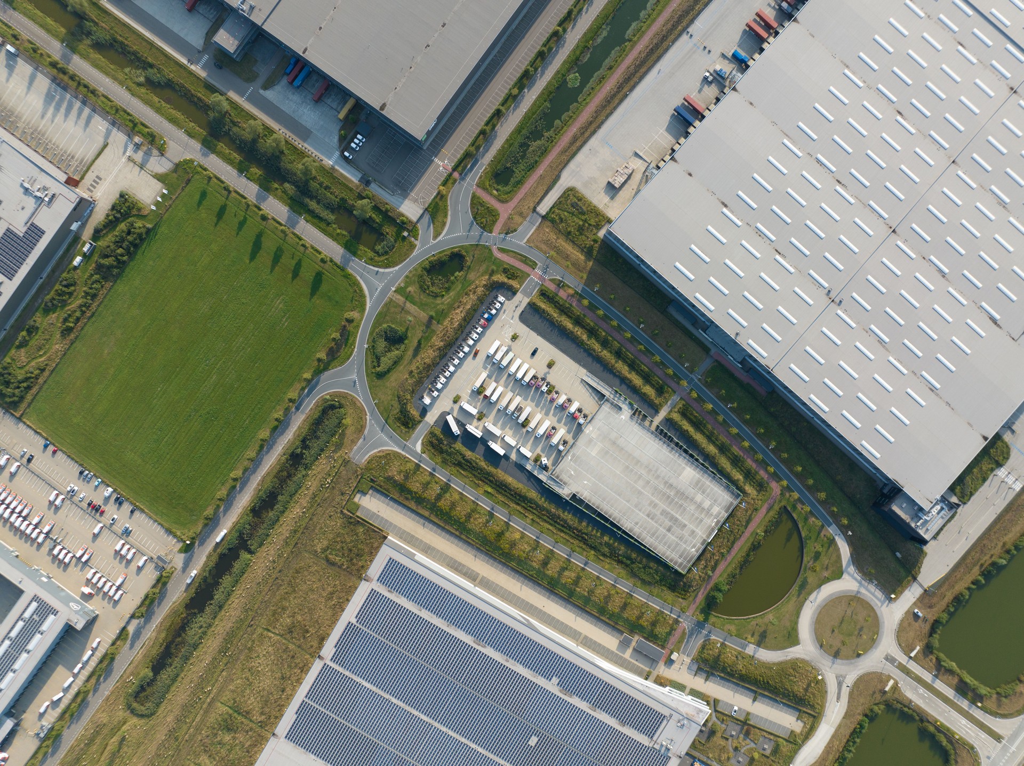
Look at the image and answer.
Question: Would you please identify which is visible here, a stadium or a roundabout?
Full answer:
Of the two, only a roundabout appears.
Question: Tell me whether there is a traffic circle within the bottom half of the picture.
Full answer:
Yes, a traffic circle is visible within the bottom half of the picture.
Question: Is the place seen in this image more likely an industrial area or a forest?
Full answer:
This looks like an industrial area.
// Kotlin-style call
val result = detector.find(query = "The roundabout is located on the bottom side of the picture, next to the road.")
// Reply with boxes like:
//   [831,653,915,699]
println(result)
[799,580,895,673]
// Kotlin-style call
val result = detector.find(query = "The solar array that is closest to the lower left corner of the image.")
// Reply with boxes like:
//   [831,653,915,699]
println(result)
[0,595,58,692]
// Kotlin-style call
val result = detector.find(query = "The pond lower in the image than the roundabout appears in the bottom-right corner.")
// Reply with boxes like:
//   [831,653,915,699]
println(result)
[848,705,946,766]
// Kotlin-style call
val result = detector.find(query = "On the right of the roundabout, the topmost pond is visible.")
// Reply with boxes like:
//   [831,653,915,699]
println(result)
[937,550,1024,690]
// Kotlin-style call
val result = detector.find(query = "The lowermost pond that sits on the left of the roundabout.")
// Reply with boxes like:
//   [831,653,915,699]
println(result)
[710,506,803,617]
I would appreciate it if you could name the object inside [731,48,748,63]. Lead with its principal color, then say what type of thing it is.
blue vehicle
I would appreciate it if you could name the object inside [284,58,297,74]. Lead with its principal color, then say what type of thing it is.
blue vehicle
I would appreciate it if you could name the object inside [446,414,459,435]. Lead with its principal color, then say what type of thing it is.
white vehicle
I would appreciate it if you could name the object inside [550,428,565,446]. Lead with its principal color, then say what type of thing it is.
white vehicle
